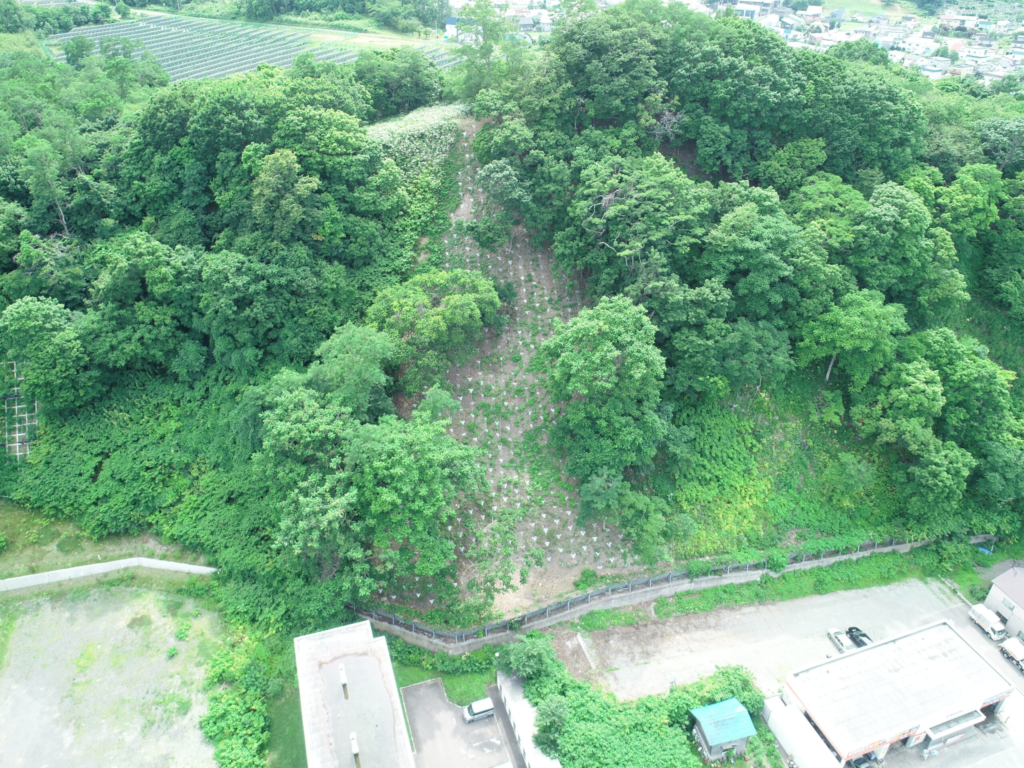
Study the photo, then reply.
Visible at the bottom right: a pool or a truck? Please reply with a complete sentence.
There is a truck at the bottom right.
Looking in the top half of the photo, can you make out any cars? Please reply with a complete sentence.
No, there is no car in the top half of the photo.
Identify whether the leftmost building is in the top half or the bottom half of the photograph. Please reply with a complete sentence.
The leftmost building sits in the bottom half of the picture.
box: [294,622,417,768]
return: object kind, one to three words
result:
building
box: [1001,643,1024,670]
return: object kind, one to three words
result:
truck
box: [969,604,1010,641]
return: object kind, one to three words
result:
truck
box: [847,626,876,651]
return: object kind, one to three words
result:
car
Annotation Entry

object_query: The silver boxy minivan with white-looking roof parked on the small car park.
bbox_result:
[463,696,495,722]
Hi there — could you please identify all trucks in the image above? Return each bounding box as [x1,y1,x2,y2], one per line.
[969,604,1010,641]
[1001,643,1024,670]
